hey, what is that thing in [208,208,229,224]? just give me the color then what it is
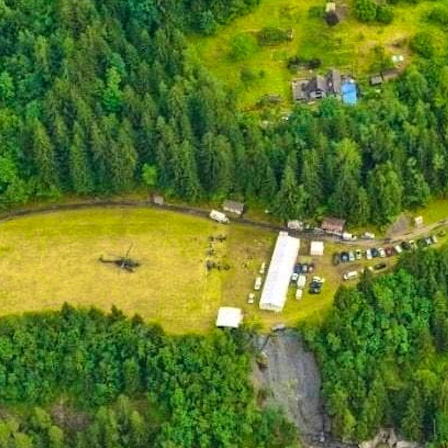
white vehicle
